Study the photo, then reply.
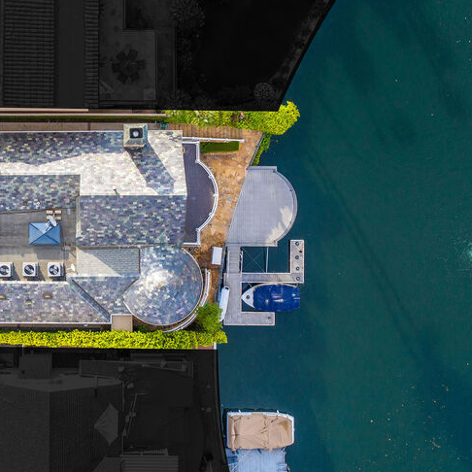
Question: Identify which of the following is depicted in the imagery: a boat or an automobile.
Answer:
boat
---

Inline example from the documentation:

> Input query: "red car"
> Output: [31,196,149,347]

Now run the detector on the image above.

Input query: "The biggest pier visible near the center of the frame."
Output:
[224,239,306,326]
